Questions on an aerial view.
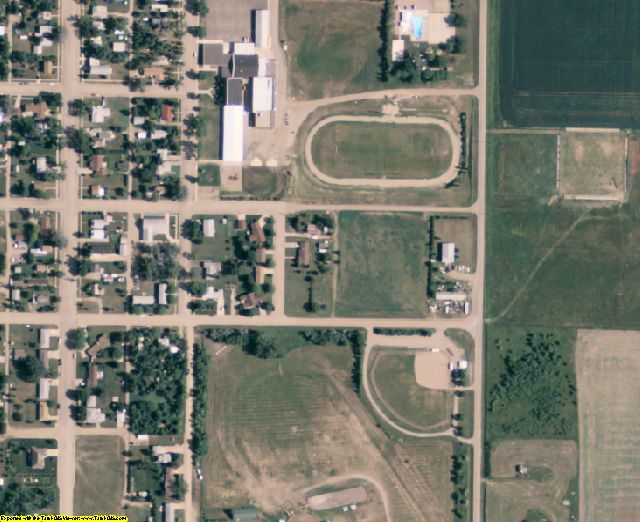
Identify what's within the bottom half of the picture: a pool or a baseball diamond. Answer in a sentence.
There is a baseball diamond within the bottom half of the picture.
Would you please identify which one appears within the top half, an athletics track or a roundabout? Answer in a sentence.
The one visible within the top half is an athletics track.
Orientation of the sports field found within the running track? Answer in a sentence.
The sports field found within the running track runs from left to right in the image.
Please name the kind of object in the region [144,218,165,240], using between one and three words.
building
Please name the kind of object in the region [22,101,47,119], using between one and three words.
house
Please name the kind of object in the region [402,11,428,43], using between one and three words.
swimming pool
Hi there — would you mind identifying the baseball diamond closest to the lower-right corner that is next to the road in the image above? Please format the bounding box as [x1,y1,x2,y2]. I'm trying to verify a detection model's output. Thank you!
[372,349,453,429]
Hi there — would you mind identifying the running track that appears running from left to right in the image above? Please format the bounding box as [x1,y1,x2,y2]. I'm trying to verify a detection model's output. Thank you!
[305,115,462,188]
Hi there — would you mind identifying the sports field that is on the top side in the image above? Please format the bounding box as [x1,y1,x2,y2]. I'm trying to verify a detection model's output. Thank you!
[312,122,455,180]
